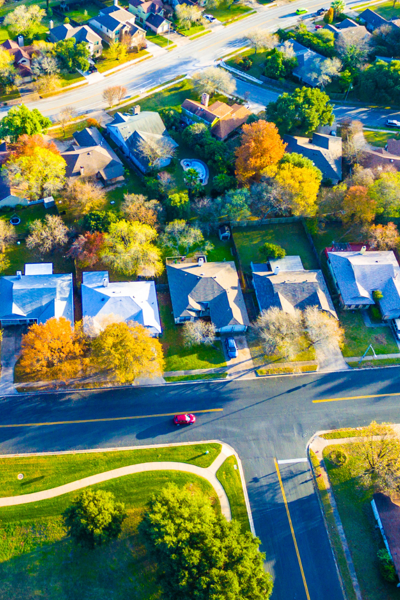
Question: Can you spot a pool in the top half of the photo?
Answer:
Yes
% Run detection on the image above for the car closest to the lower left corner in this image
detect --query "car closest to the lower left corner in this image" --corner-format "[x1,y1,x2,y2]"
[173,412,195,426]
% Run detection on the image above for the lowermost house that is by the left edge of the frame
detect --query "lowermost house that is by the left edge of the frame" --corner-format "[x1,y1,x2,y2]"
[0,262,75,330]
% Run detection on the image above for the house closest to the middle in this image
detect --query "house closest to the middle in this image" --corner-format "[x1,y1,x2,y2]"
[167,257,249,334]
